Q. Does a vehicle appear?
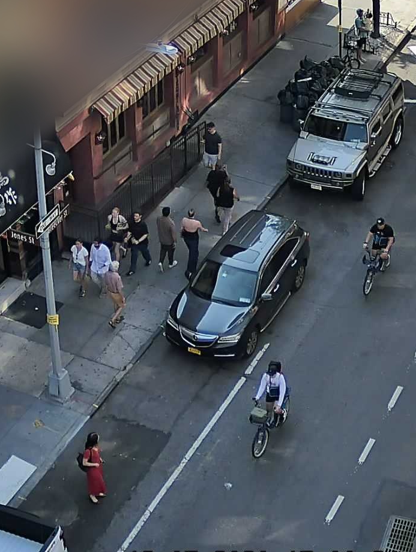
Yes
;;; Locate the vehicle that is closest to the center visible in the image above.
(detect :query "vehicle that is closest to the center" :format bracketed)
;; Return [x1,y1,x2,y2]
[160,199,315,362]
